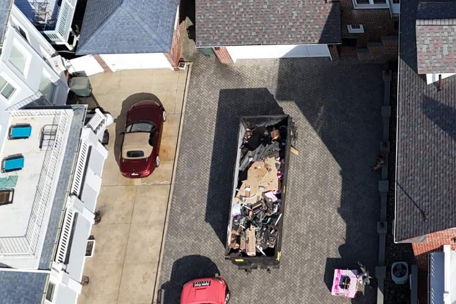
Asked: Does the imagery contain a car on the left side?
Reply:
Yes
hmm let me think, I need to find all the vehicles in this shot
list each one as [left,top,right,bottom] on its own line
[186,278,237,304]
[116,95,168,182]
